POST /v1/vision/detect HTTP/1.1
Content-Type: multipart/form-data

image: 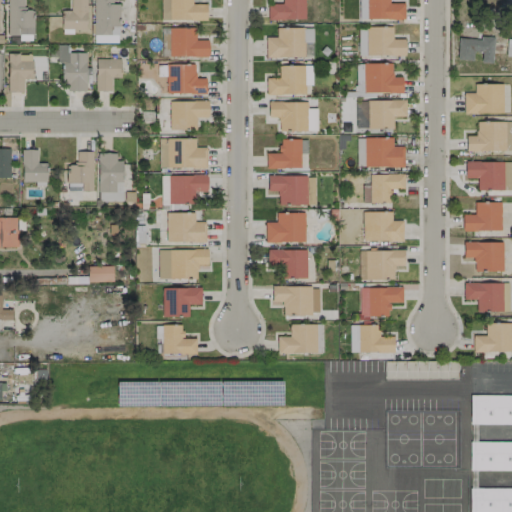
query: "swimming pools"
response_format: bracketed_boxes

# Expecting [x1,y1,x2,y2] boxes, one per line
[150,38,163,53]
[316,222,332,242]
[28,189,43,198]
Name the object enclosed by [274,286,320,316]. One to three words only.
house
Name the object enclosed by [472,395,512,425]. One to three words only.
building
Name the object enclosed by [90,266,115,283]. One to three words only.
barn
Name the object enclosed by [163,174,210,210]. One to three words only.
house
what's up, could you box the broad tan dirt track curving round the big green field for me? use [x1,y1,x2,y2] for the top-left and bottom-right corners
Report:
[0,407,306,512]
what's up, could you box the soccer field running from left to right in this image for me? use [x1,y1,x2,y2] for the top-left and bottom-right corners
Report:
[0,418,296,512]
